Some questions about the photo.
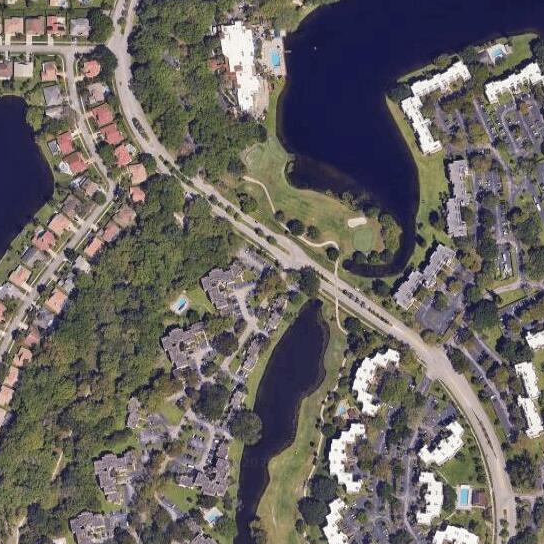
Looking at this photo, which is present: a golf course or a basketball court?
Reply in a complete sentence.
Looking from above, you can make out a golf course.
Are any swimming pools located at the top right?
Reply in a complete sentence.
Yes, a swimming pool can be seen at the top right.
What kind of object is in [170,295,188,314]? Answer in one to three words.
swimming pool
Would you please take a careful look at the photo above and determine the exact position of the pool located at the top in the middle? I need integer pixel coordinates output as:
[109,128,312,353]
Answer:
[264,36,284,74]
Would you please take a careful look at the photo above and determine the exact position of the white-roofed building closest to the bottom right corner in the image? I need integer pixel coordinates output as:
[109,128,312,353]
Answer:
[433,524,480,544]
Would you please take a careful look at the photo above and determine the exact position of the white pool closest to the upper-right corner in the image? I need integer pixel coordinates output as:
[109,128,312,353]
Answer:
[484,43,508,63]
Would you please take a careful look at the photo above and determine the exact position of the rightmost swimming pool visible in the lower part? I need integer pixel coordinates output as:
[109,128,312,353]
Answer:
[456,486,473,510]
